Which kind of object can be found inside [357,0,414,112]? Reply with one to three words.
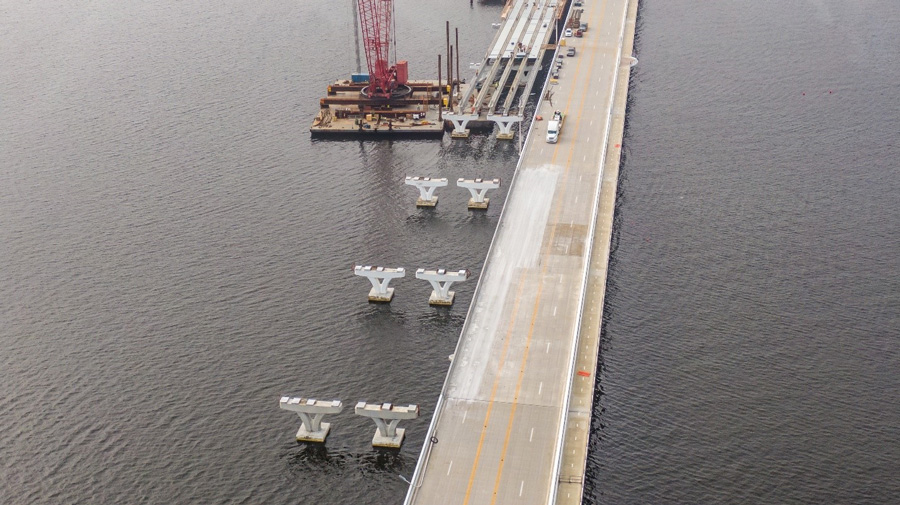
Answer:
crane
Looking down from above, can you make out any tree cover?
No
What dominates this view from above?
water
